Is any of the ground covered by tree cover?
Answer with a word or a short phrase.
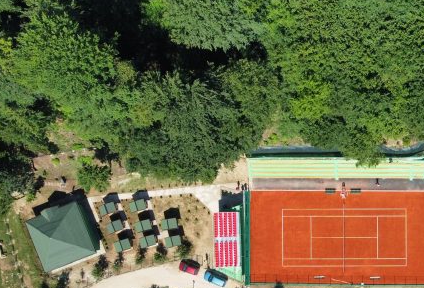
Yes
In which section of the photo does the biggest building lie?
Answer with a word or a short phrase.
bottom left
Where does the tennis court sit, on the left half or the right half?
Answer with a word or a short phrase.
right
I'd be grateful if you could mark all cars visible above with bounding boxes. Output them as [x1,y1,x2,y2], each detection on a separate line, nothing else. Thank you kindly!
[179,261,201,275]
[204,271,229,286]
